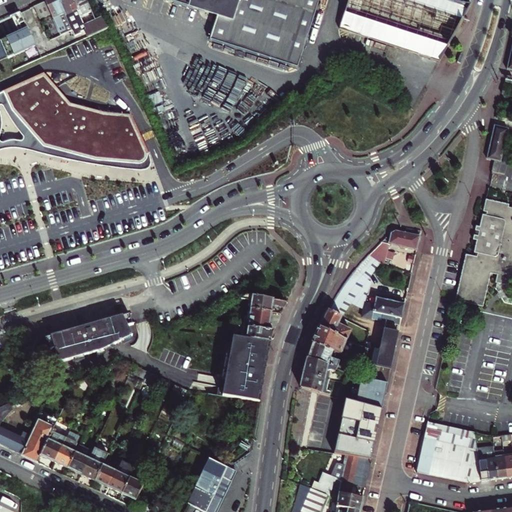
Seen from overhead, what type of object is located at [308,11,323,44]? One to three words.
vehicle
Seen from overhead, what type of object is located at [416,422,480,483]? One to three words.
building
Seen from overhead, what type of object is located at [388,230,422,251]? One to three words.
house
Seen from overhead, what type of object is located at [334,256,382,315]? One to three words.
shed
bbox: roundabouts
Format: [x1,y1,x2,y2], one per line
[292,163,372,243]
